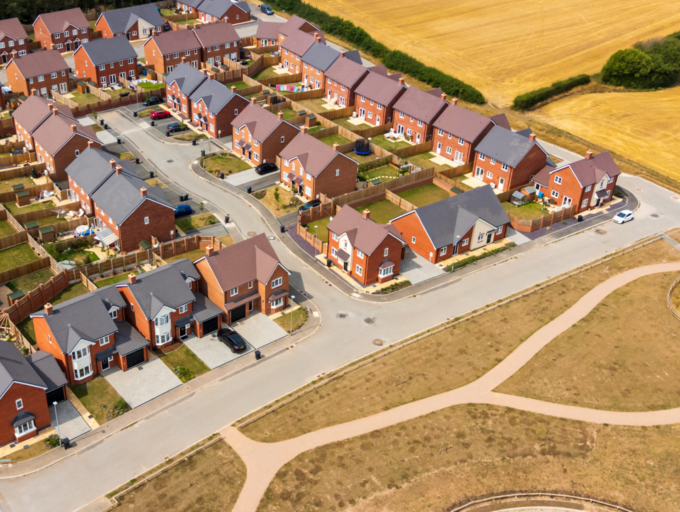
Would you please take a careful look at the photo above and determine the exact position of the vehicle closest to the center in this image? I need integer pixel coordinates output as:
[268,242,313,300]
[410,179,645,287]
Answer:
[298,198,322,212]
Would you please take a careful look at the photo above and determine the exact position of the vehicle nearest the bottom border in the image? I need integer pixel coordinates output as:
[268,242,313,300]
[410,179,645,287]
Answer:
[217,330,247,356]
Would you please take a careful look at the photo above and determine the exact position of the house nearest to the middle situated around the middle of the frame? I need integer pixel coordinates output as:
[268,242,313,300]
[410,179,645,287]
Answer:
[326,205,410,285]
